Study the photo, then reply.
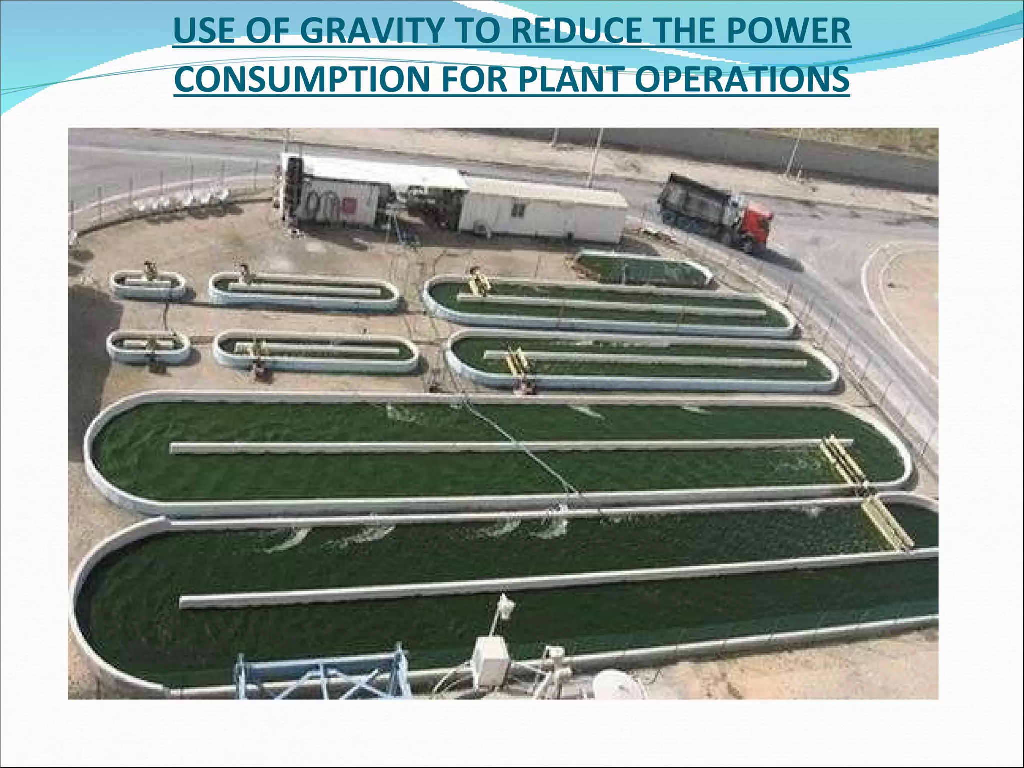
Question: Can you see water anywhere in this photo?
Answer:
Yes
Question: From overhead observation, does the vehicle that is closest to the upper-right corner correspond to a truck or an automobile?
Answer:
truck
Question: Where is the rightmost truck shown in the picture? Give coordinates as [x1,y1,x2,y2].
[660,176,778,253]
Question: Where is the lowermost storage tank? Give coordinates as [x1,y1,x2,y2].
[579,251,716,291]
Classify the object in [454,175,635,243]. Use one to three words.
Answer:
building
